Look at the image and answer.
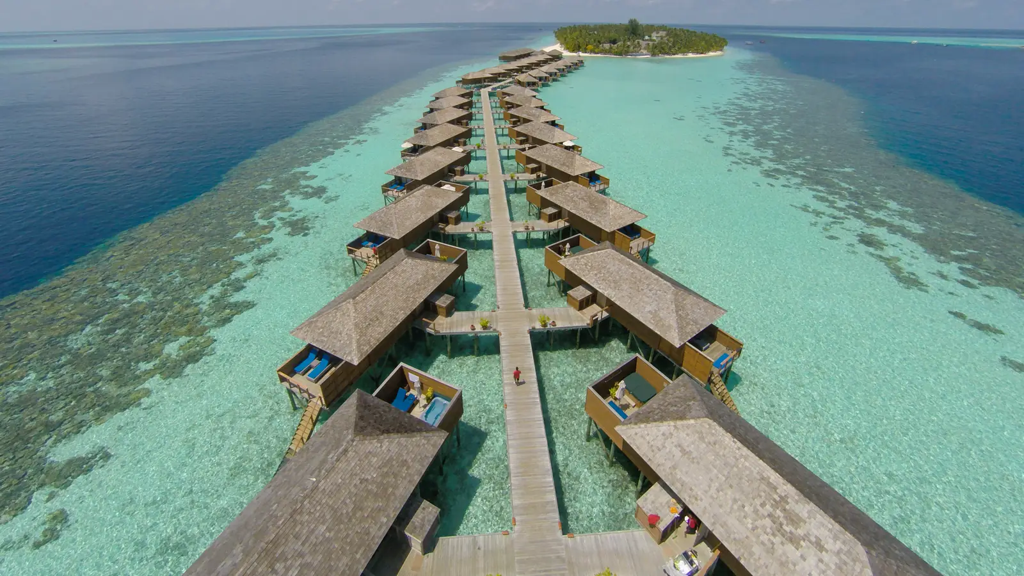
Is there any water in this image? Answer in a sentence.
Yes, there is water in the image.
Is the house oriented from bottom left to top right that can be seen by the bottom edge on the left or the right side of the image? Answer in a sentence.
The house oriented from bottom left to top right that can be seen by the bottom edge sits on the left side.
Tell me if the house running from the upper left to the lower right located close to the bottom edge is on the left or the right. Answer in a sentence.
The house running from the upper left to the lower right located close to the bottom edge appears in the right half of the scene.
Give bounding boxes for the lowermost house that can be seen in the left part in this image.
[179,364,465,576]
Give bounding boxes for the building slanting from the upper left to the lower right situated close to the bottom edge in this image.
[584,352,955,576]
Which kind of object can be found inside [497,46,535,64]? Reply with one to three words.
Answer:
building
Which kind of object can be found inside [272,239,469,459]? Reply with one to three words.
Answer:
house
